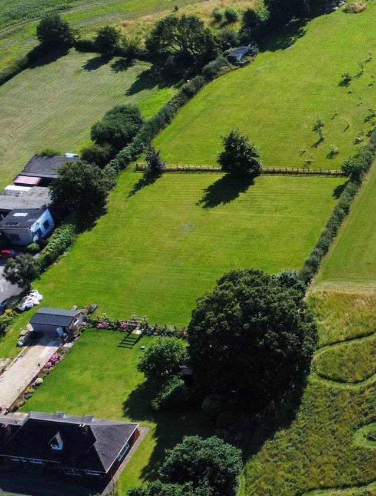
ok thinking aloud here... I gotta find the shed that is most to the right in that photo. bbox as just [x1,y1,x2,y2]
[218,44,255,66]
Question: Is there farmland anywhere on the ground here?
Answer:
Yes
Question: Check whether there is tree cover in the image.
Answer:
Yes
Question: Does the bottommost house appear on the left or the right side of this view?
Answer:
left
